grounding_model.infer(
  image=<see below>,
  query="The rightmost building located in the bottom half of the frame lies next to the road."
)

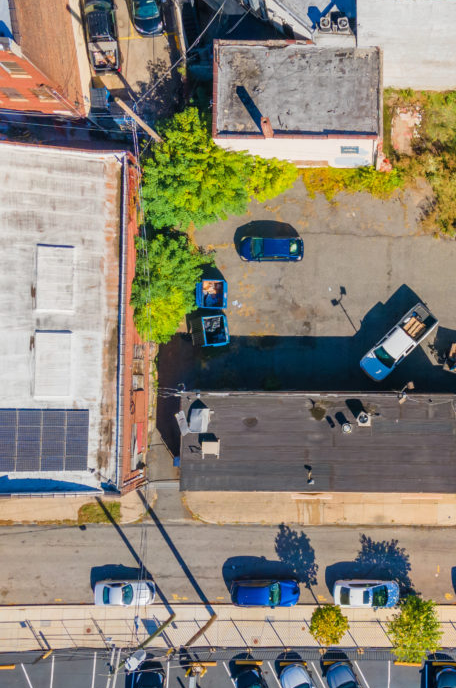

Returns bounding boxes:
[178,391,456,503]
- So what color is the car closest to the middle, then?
blue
